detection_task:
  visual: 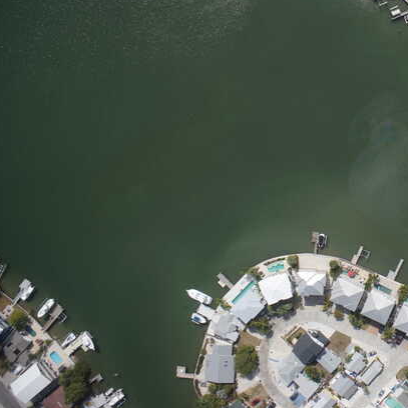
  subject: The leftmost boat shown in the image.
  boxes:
[24,281,36,298]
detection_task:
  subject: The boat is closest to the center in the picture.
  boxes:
[186,290,214,305]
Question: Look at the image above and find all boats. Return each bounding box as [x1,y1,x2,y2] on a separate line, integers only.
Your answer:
[186,290,214,305]
[103,389,115,400]
[189,311,207,324]
[106,393,123,408]
[82,331,95,350]
[316,234,325,250]
[39,298,56,317]
[62,333,77,346]
[24,281,36,298]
